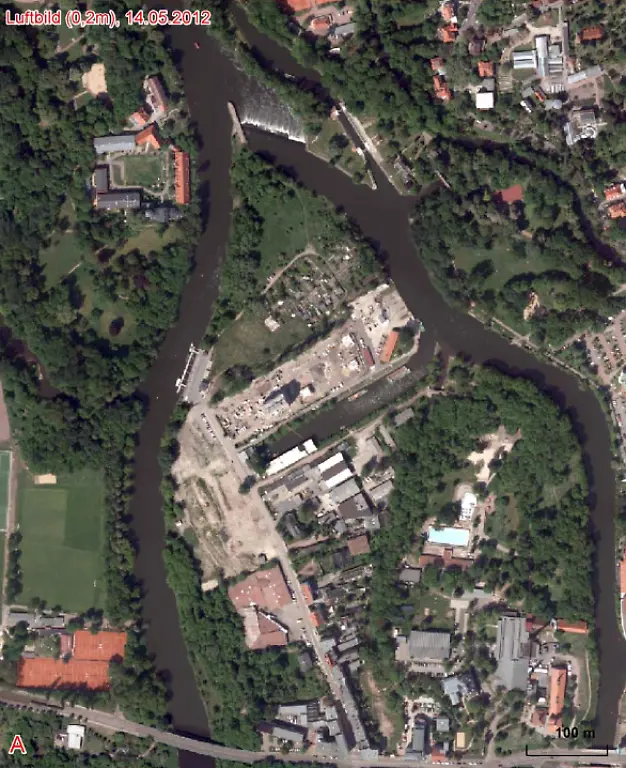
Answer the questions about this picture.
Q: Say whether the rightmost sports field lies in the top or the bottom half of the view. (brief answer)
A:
bottom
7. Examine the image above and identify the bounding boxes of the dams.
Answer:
[231,62,305,142]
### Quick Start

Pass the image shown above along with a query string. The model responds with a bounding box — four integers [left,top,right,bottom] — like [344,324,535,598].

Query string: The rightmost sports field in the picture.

[16,466,106,609]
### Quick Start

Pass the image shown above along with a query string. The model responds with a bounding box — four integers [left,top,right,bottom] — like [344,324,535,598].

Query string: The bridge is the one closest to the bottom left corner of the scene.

[157,729,220,758]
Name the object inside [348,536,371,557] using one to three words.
house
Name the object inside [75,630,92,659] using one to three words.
tennis court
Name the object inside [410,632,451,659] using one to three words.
building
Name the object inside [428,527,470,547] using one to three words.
swimming pool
